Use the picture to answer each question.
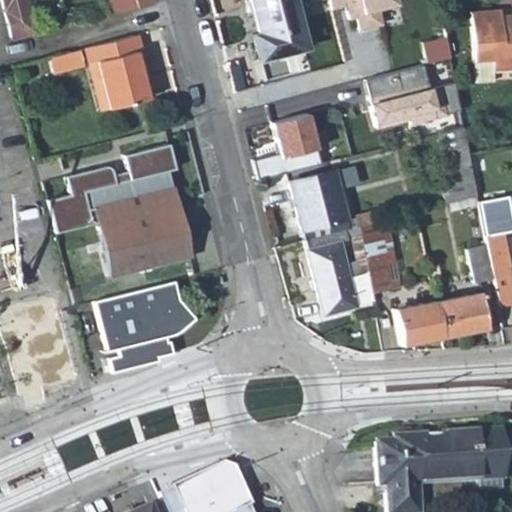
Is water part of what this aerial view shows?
No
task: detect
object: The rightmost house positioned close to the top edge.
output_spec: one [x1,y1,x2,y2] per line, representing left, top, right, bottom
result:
[466,8,512,84]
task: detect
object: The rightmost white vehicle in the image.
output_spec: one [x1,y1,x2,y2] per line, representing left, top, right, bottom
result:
[337,90,357,102]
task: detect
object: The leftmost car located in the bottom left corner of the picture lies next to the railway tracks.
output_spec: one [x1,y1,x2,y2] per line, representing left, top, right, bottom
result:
[10,432,33,447]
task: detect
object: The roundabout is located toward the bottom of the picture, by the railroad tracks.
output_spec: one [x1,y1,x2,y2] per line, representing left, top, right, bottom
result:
[244,376,304,422]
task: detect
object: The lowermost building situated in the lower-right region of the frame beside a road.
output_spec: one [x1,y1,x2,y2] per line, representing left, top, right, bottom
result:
[368,423,512,512]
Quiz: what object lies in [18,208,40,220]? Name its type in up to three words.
vehicle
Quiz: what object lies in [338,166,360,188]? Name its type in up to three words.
shed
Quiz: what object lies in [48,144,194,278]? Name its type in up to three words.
house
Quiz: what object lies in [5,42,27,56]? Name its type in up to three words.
vehicle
